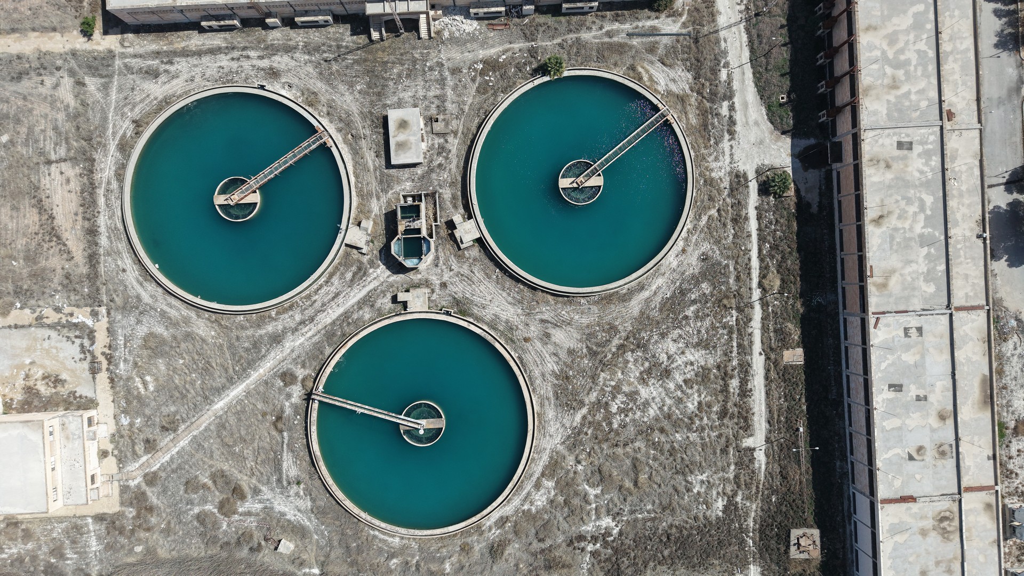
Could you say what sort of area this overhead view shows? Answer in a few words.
industrial area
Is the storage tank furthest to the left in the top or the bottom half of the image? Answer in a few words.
top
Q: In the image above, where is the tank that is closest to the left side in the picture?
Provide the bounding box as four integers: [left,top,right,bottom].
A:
[121,77,357,316]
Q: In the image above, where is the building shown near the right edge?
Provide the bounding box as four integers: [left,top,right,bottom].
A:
[826,0,1004,576]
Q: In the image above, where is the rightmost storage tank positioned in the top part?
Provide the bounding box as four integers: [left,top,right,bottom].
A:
[465,66,697,298]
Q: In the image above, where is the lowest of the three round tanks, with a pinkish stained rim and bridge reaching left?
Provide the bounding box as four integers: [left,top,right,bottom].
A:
[307,302,538,539]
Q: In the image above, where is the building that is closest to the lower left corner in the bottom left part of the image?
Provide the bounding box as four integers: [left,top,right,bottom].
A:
[0,410,113,515]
